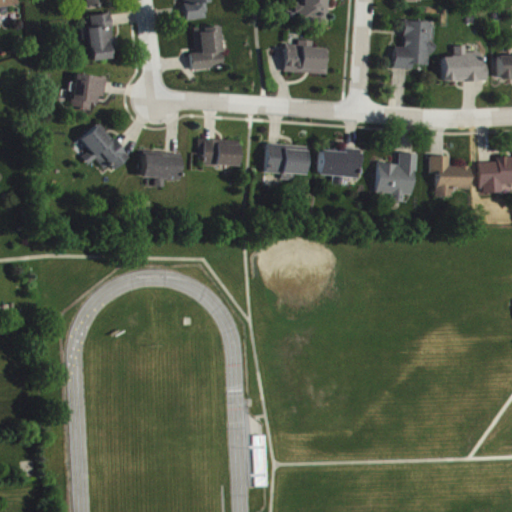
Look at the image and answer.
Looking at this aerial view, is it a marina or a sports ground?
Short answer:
sports ground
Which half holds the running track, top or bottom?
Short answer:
bottom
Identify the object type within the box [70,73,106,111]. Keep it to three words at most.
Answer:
house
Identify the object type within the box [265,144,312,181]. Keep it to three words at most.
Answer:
house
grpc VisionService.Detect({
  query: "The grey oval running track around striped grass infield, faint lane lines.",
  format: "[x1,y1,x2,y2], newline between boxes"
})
[67,269,251,512]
